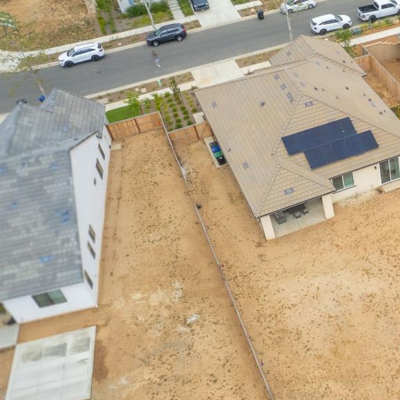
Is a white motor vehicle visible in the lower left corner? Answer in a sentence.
No, in the lower left corner there is no white motor vehicle.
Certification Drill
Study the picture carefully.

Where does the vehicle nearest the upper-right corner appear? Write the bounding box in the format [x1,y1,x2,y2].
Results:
[360,0,400,20]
